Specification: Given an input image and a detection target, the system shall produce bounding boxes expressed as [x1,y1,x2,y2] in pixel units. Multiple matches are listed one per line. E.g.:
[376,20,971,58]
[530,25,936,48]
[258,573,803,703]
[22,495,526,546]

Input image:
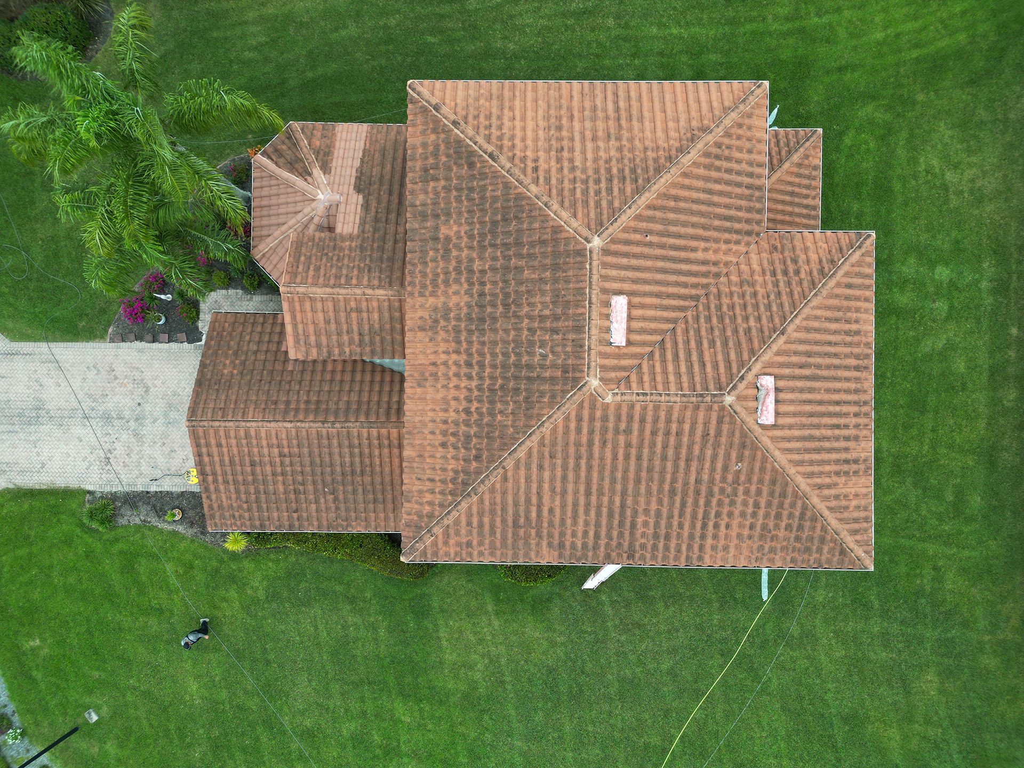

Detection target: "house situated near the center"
[183,78,876,571]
